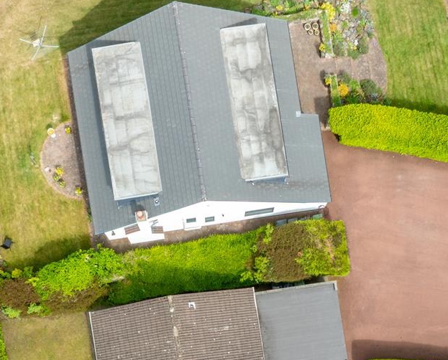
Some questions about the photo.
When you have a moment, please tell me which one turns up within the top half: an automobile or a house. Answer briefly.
house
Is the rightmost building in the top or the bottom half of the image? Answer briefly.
bottom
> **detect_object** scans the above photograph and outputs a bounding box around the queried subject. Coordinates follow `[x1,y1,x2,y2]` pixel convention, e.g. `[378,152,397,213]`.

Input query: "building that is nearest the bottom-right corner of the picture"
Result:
[256,281,347,360]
